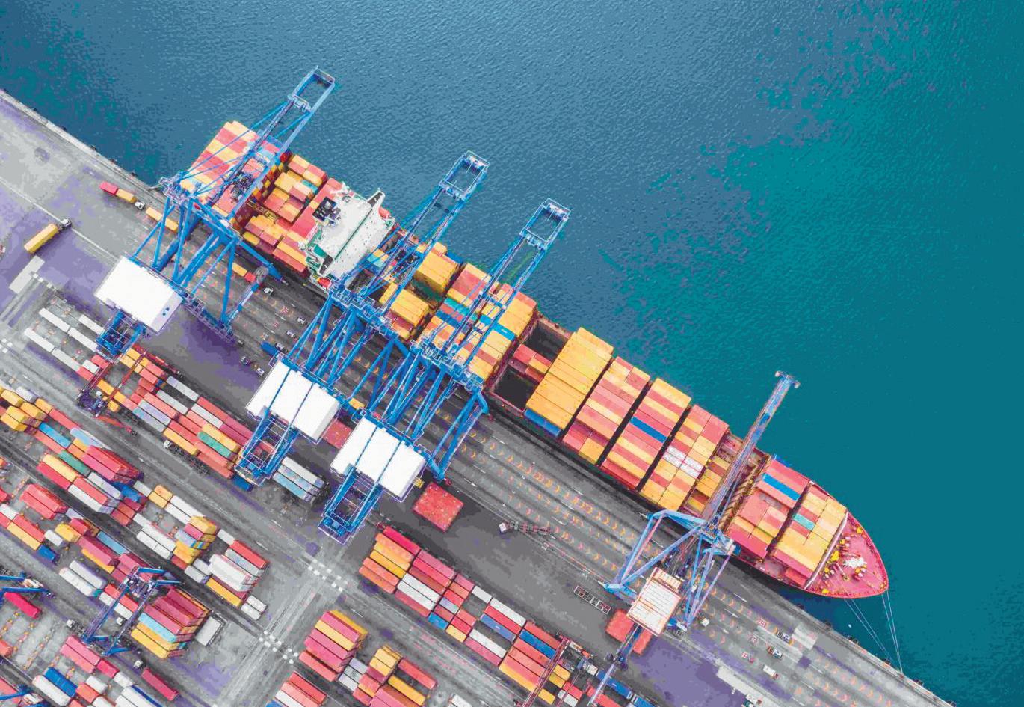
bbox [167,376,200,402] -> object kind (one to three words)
shipping container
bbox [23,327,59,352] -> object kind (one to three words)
shipping container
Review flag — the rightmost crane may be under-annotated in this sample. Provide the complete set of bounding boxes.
[591,366,806,707]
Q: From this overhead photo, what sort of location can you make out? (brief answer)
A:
port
